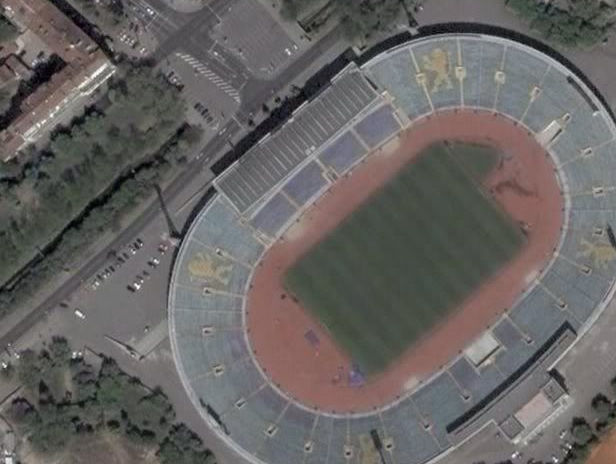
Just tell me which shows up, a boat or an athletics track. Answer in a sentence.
The one in the frame is an athletics track.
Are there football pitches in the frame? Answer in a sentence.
Yes, the frame does contain a football pitch.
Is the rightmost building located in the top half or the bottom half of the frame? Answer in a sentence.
Seen from above, the rightmost building lies in the bottom half of the view.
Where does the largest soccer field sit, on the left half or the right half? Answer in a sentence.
The largest soccer field is on the right side of the image.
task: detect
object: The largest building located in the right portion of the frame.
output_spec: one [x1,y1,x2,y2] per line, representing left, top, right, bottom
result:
[498,377,575,446]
